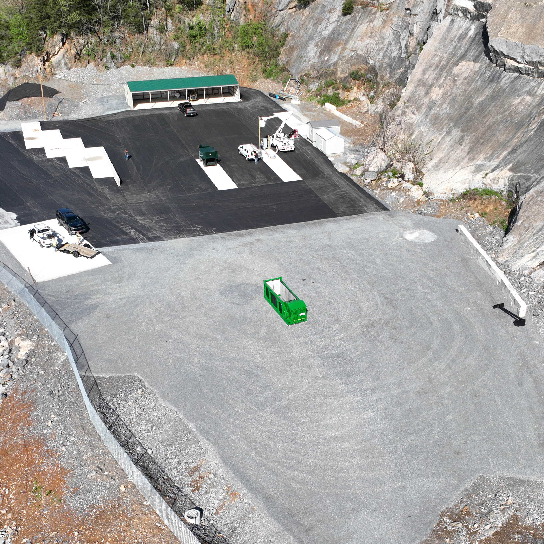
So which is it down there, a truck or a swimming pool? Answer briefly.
truck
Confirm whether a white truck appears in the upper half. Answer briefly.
Yes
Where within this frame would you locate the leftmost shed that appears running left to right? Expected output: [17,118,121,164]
[122,71,246,110]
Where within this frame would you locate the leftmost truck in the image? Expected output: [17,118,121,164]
[23,217,61,247]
